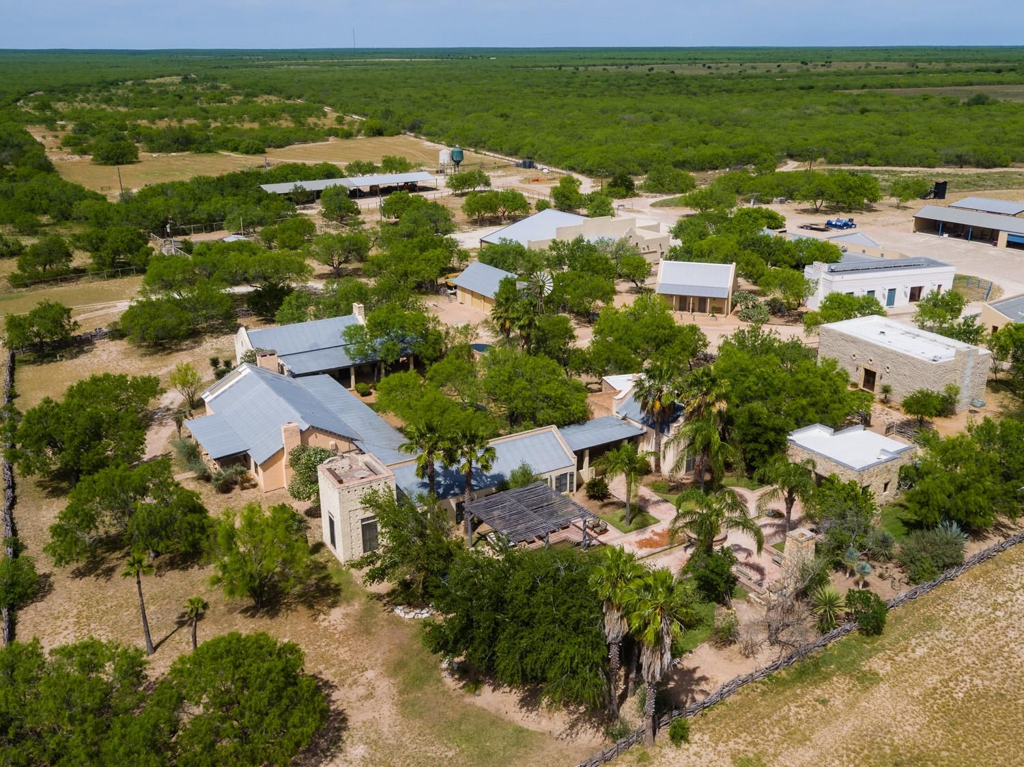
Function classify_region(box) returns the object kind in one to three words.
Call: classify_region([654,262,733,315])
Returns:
house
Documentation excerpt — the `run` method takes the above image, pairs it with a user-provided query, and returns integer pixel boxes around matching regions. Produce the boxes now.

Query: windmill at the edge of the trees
[513,269,556,317]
